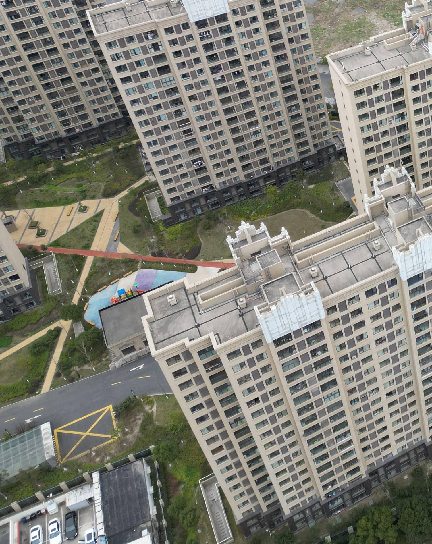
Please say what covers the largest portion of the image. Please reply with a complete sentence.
The largest share of the image is taken up by buildings.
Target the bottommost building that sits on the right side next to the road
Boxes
[139,167,432,539]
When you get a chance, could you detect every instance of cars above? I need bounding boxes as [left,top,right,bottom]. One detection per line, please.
[81,525,100,544]
[46,520,64,544]
[28,527,43,544]
[63,515,79,542]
